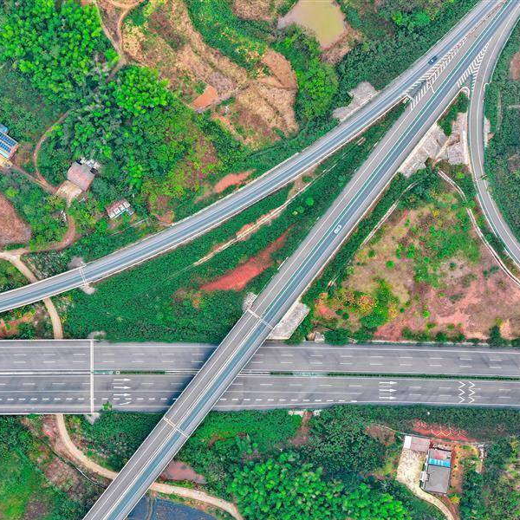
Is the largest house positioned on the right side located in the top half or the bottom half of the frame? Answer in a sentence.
The largest house positioned on the right side is in the bottom half of the image.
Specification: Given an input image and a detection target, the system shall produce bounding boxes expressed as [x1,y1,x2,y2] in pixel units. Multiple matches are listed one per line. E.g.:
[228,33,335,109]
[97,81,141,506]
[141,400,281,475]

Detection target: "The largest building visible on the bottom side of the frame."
[419,457,452,492]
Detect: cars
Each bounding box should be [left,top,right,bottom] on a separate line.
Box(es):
[429,54,439,63]
[334,224,341,234]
